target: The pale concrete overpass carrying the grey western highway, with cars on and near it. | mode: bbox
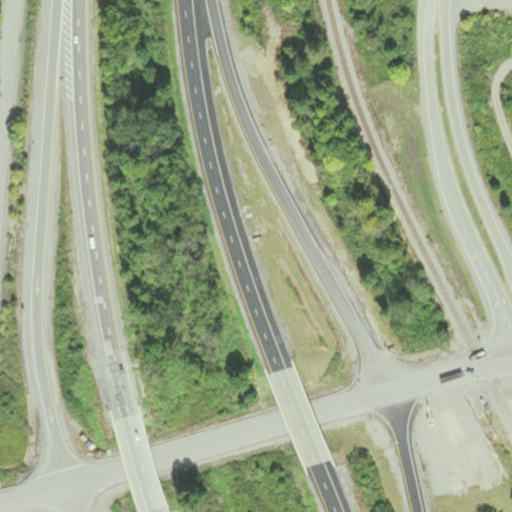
[110,406,168,512]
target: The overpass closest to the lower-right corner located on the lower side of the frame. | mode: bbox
[264,360,336,474]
